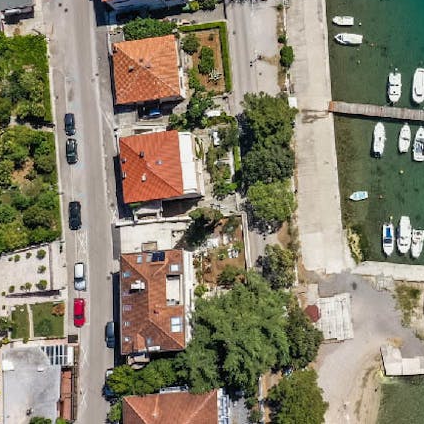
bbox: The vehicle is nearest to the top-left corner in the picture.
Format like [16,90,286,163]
[63,113,78,136]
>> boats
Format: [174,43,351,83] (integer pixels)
[399,121,410,156]
[413,124,424,165]
[412,65,424,106]
[371,120,385,160]
[387,69,402,107]
[412,226,424,264]
[350,190,369,200]
[334,33,366,44]
[381,220,395,263]
[332,16,357,25]
[398,213,412,262]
